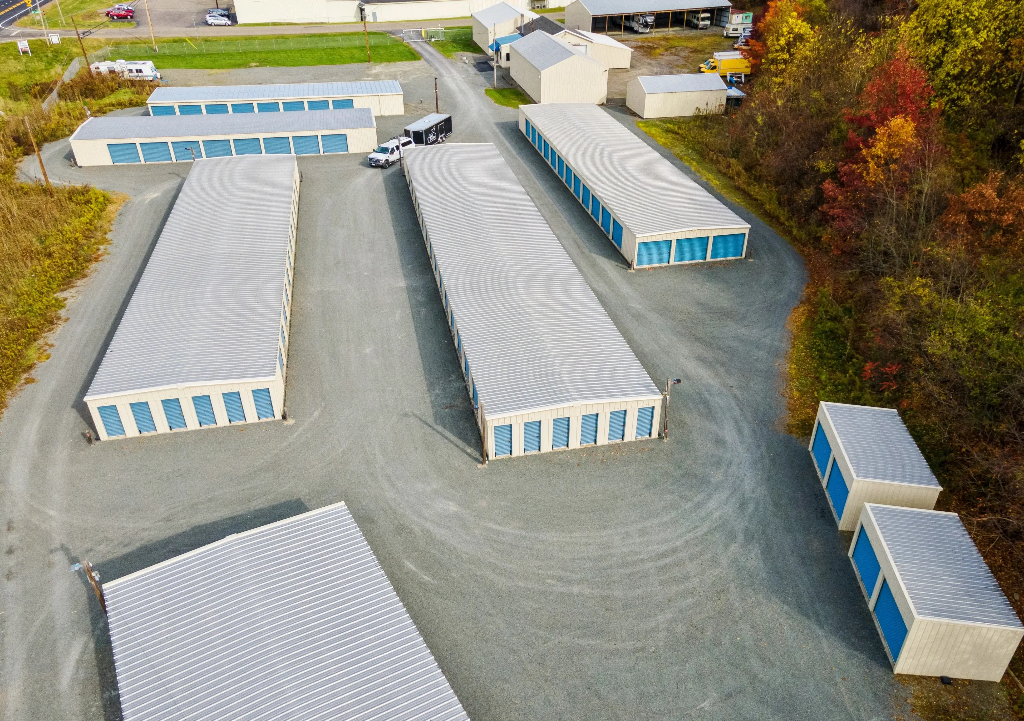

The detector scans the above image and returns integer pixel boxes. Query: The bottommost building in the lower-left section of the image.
[100,499,457,721]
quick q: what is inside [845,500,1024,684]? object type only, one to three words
shed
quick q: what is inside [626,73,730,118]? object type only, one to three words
barn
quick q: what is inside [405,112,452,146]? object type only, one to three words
trailer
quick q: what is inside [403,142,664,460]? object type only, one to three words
building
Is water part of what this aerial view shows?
No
